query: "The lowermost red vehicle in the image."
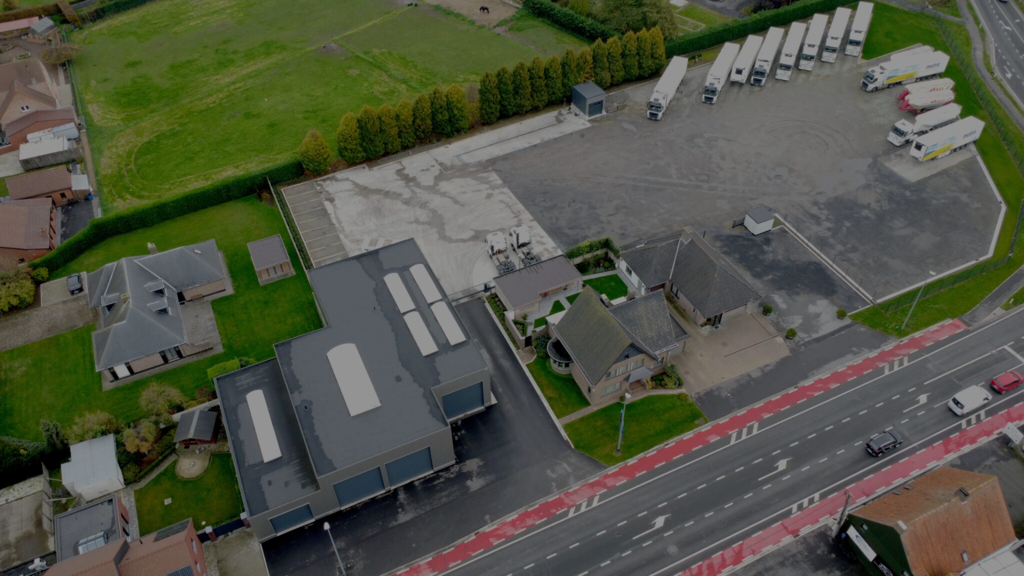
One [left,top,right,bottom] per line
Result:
[991,368,1024,393]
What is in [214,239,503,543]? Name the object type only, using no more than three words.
building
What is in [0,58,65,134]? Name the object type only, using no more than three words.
house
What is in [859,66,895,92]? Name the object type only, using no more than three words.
truck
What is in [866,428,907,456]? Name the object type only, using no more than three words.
car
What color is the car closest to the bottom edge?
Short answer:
black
